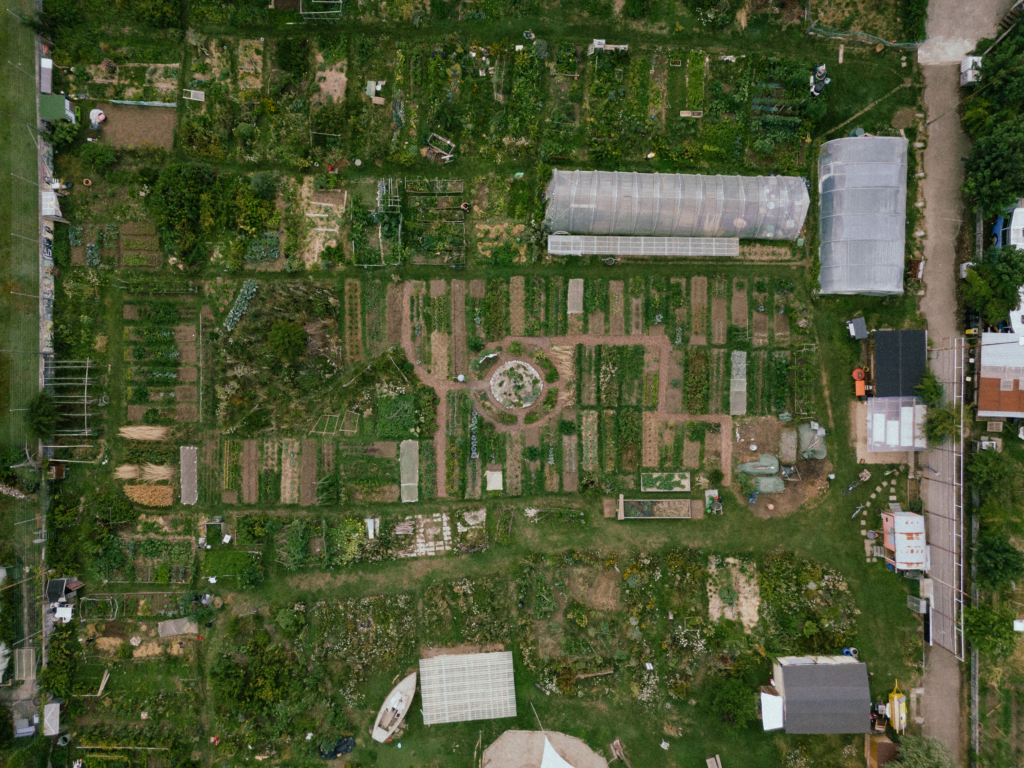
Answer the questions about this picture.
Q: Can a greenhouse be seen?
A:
Yes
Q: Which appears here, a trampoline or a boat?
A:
boat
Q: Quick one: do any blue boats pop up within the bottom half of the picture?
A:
No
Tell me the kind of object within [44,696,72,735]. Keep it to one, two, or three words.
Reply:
shed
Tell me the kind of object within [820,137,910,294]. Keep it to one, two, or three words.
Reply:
greenhouse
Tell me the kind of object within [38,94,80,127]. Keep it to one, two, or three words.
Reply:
shed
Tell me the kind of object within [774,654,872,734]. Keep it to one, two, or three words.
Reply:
house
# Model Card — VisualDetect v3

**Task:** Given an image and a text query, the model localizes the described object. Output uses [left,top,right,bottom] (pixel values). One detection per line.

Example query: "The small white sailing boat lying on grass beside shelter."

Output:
[370,675,415,747]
